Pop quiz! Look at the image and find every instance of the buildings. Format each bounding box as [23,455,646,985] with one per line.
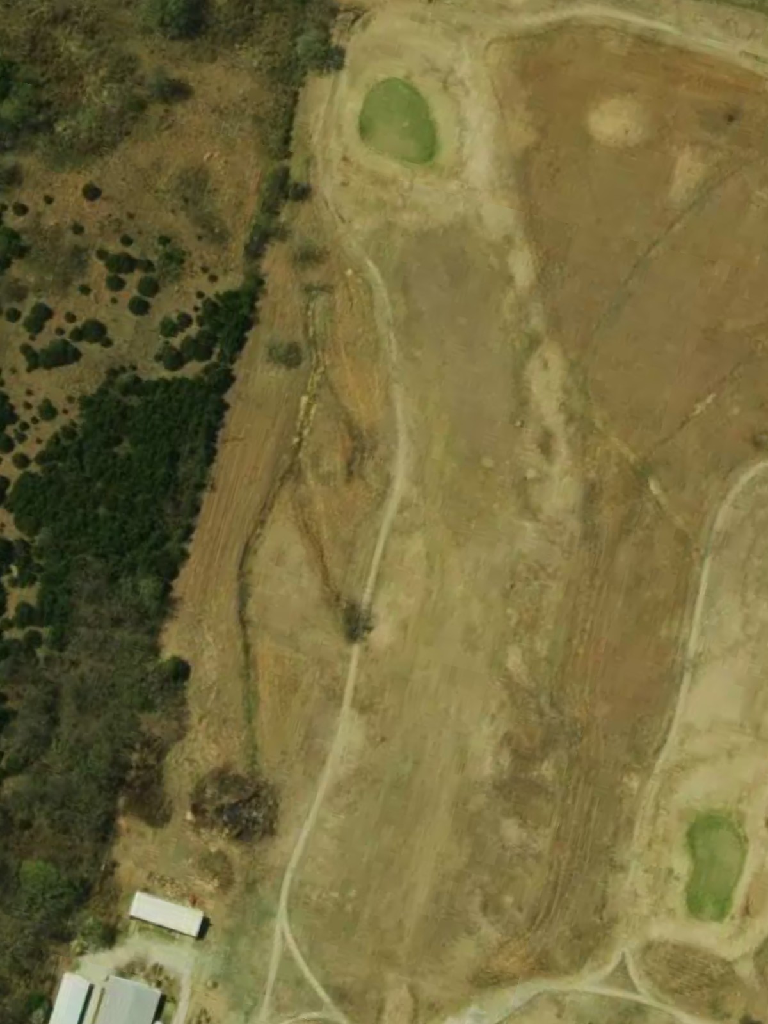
[48,969,91,1024]
[93,972,161,1024]
[129,893,203,938]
